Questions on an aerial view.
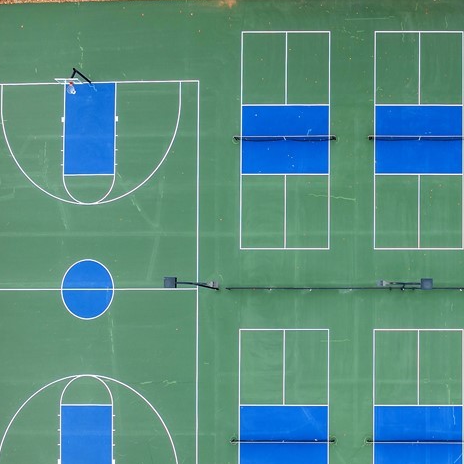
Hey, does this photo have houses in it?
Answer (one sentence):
No, there's no house here.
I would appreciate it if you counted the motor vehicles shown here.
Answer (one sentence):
There are no motor vehicles in the image.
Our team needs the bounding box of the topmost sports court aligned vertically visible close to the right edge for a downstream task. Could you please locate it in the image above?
[374,31,464,249]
